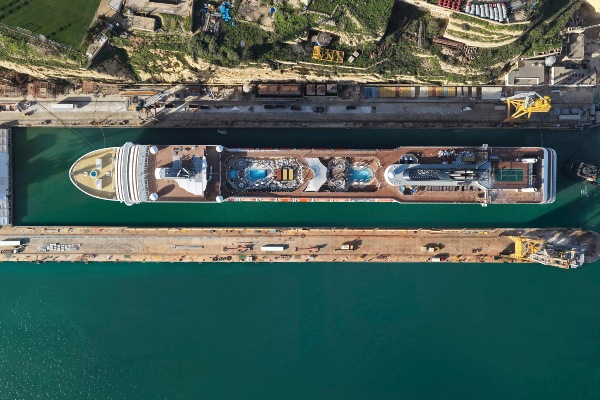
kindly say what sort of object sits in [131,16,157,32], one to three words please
house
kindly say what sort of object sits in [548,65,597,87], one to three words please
building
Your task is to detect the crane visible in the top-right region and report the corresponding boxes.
[479,90,553,122]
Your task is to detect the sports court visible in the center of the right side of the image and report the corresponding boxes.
[493,162,531,188]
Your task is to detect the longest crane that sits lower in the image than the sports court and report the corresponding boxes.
[507,235,586,269]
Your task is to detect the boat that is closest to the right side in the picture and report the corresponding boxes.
[562,158,600,186]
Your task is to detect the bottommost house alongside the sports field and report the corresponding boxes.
[86,39,107,75]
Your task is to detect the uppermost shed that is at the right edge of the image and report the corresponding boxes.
[564,34,585,61]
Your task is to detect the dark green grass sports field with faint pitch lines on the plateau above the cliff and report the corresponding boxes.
[0,0,97,49]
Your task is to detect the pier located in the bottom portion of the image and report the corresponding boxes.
[0,229,596,263]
